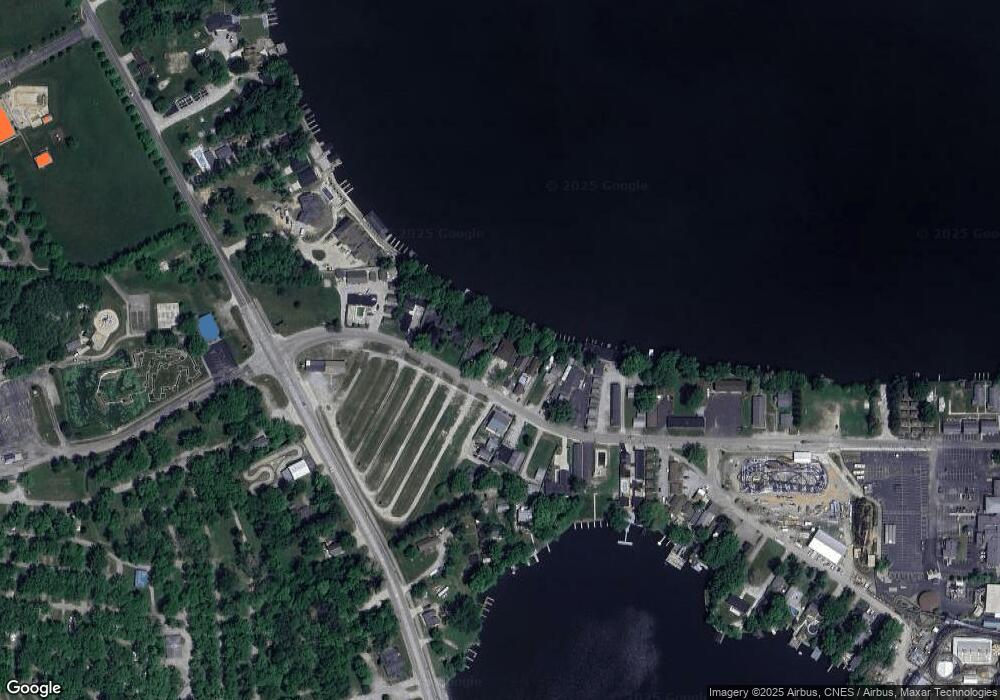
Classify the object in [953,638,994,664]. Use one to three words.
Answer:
building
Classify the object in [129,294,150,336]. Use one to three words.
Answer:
tennis court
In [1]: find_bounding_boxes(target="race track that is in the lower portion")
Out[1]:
[243,444,316,495]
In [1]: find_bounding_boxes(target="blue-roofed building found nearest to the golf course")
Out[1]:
[197,314,220,341]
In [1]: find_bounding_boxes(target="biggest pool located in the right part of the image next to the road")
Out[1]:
[596,448,608,474]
